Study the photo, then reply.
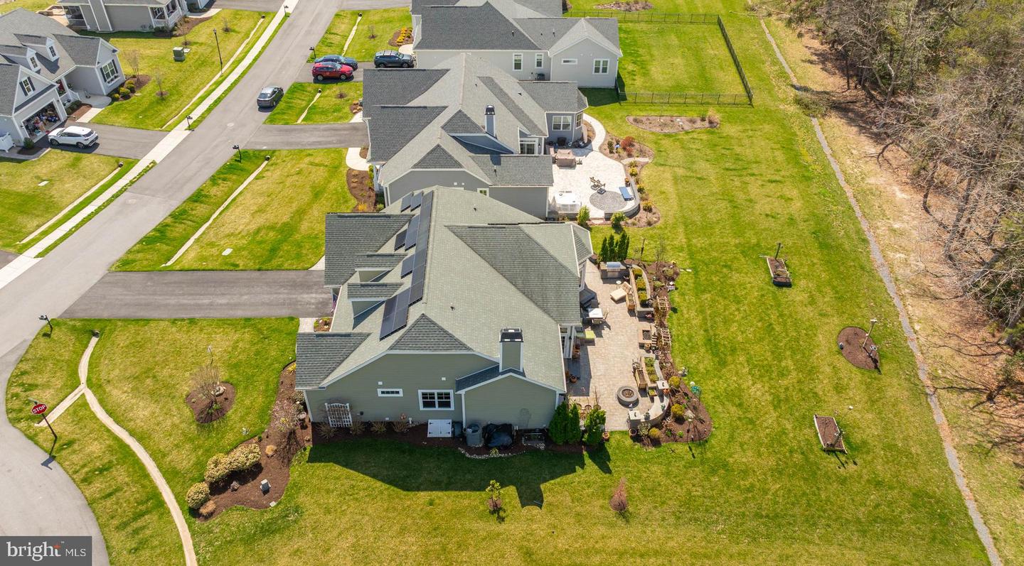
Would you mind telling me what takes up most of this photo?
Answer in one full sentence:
The bulk of the photo consists of grass.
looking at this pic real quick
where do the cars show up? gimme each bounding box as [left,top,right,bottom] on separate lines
[310,60,353,80]
[371,48,415,68]
[45,125,99,149]
[251,85,285,109]
[314,52,360,68]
